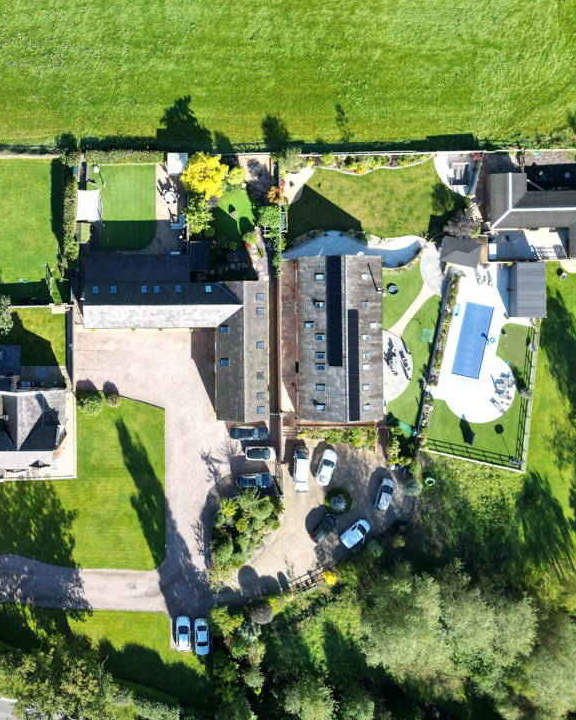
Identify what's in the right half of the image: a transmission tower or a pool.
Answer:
pool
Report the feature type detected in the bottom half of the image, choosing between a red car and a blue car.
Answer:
blue car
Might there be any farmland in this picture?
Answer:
Yes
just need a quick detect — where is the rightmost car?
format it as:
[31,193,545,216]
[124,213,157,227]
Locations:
[373,477,395,511]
